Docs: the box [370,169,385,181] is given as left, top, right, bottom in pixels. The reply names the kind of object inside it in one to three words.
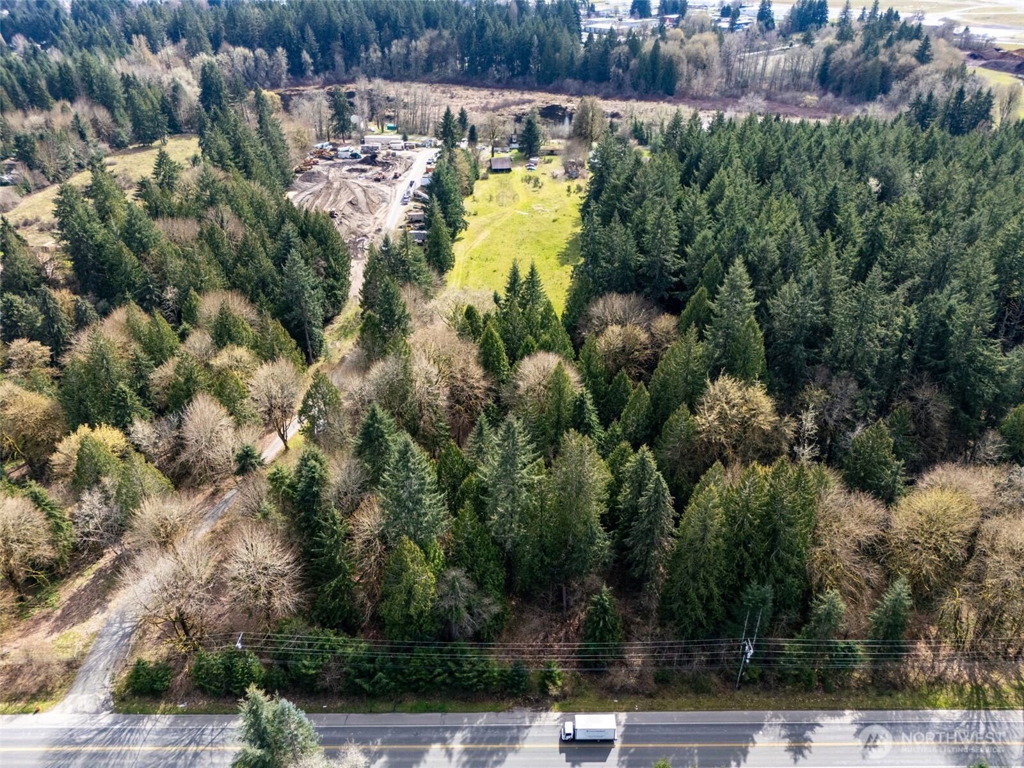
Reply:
vehicle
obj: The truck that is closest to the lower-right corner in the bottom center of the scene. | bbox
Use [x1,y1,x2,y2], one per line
[561,711,623,741]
